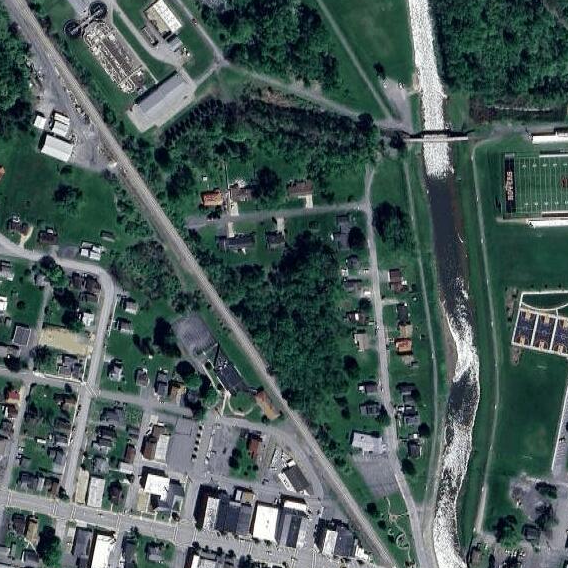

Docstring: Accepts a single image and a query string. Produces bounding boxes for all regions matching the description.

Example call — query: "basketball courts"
[514,310,537,345]
[533,314,555,348]
[551,319,568,353]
